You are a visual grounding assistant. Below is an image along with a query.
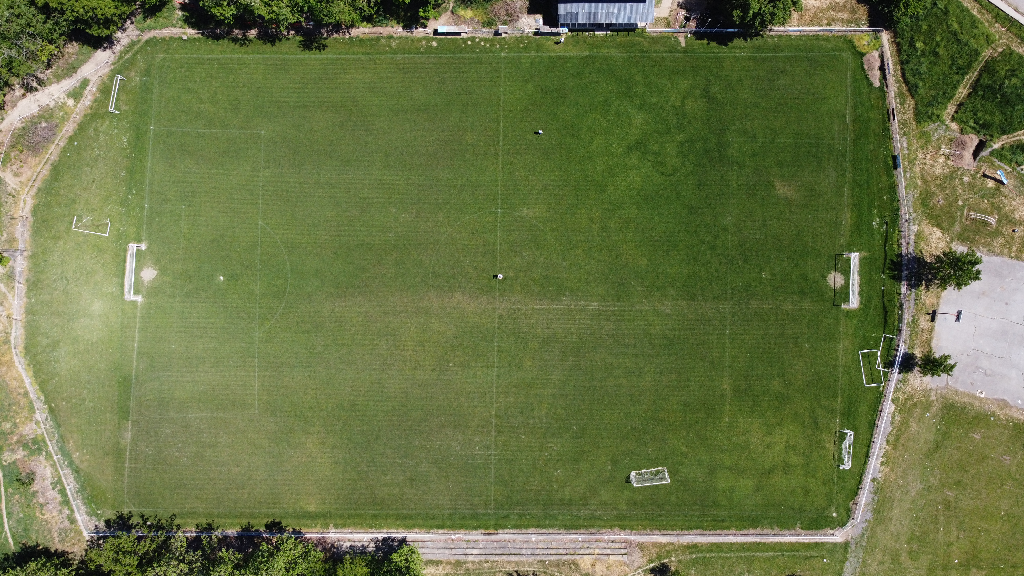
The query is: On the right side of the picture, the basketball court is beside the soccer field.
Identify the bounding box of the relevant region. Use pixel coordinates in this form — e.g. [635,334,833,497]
[929,247,1024,406]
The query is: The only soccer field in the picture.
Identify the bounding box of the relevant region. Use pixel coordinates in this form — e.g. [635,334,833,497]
[23,32,902,532]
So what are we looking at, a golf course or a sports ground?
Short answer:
sports ground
